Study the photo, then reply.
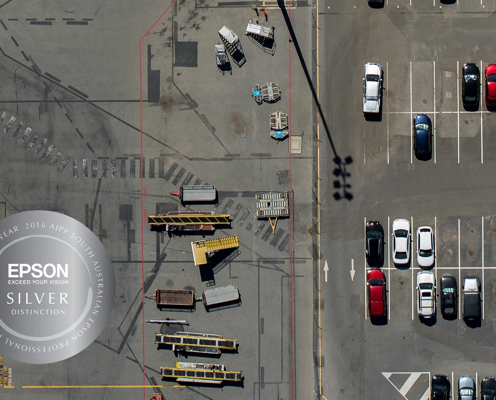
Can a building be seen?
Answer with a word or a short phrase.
No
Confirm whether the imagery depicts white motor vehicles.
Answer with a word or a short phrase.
Yes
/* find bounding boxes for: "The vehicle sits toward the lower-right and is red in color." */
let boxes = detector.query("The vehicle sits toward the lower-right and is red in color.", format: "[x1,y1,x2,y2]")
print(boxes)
[365,268,386,316]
